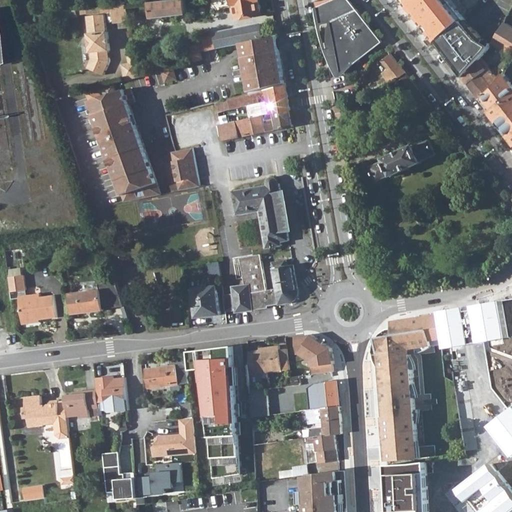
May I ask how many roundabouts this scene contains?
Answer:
1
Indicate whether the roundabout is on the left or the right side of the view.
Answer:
right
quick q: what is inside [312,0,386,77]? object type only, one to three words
building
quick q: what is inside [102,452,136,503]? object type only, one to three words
house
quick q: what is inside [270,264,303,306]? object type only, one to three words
building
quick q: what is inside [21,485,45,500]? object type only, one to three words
shed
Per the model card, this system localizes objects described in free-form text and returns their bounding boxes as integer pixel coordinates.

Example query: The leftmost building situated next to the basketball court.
[84,88,162,206]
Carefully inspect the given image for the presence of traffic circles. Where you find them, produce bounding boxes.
[320,281,380,343]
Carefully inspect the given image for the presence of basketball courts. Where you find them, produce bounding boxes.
[138,190,206,232]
